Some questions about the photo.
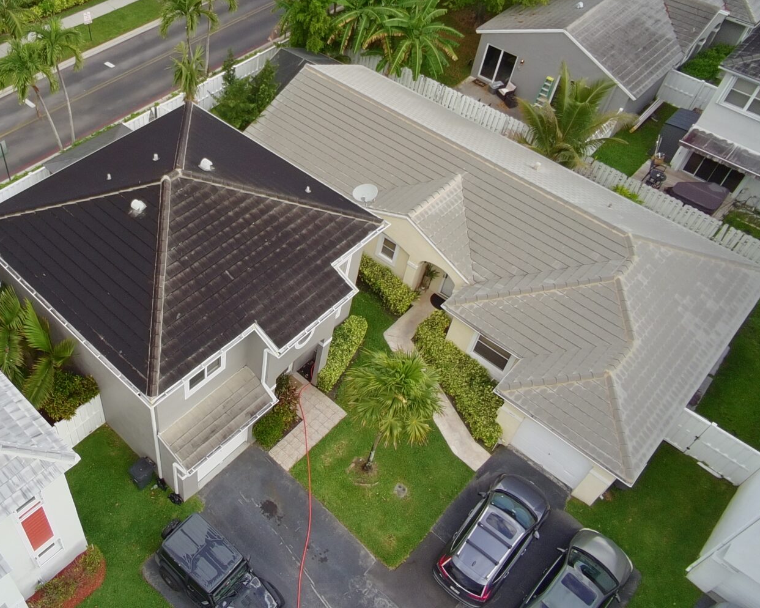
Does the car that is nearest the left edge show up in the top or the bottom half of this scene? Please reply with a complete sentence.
Seen from above, the car that is nearest the left edge lies in the bottom half of the view.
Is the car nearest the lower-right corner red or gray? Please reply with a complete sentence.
From above, the car nearest the lower-right corner appears gray.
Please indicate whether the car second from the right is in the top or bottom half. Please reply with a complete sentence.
Seen from above, the car second from the right lies in the bottom half of the view.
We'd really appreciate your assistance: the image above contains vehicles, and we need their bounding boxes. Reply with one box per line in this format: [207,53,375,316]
[158,512,276,608]
[434,475,544,608]
[527,532,628,608]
